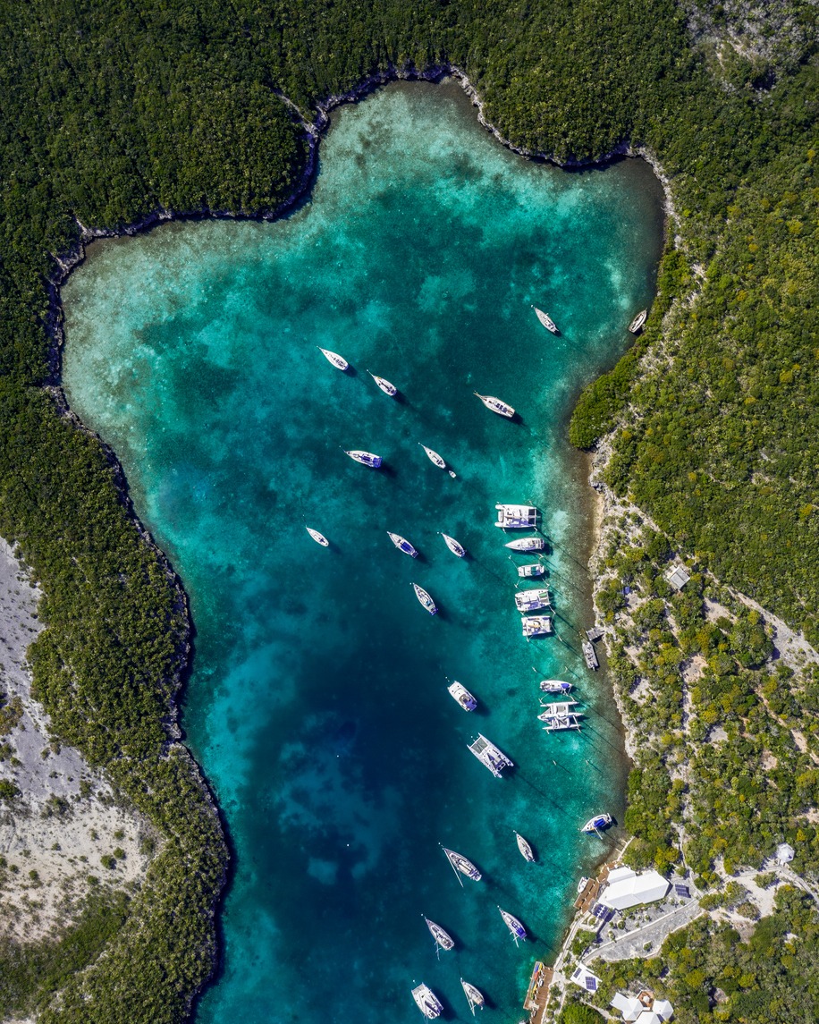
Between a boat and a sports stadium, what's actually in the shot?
boat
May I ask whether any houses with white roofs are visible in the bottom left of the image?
No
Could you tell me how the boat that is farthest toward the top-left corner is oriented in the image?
at an angle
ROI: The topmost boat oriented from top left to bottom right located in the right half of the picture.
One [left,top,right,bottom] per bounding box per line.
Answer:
[532,305,559,335]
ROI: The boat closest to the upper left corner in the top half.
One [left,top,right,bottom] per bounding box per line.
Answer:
[318,347,350,371]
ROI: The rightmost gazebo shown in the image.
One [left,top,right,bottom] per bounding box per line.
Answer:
[777,846,796,865]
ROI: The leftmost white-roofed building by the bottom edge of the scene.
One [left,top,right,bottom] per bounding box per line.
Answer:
[570,960,602,992]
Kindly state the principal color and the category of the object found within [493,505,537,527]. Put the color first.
white boat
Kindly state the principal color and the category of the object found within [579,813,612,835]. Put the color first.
white boat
